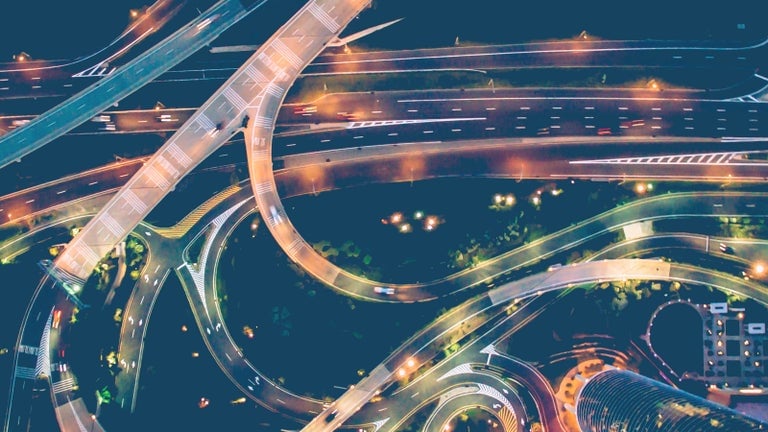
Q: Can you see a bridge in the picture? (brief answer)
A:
Yes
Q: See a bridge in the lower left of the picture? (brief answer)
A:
Yes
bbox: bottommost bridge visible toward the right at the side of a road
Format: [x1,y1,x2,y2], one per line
[300,259,768,432]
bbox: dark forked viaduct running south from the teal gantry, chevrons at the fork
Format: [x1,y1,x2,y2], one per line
[2,265,104,432]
